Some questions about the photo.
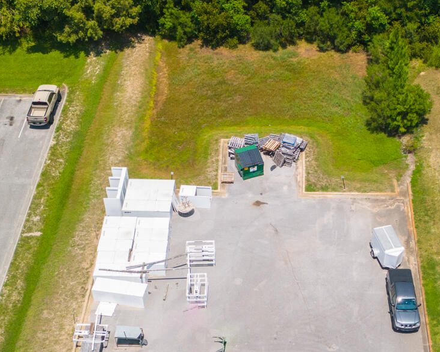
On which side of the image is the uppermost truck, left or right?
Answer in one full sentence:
You can find the uppermost truck on the left side of the picture.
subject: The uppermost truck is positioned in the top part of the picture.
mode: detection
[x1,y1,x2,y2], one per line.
[24,78,61,125]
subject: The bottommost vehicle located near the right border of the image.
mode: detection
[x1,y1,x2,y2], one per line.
[387,260,424,328]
